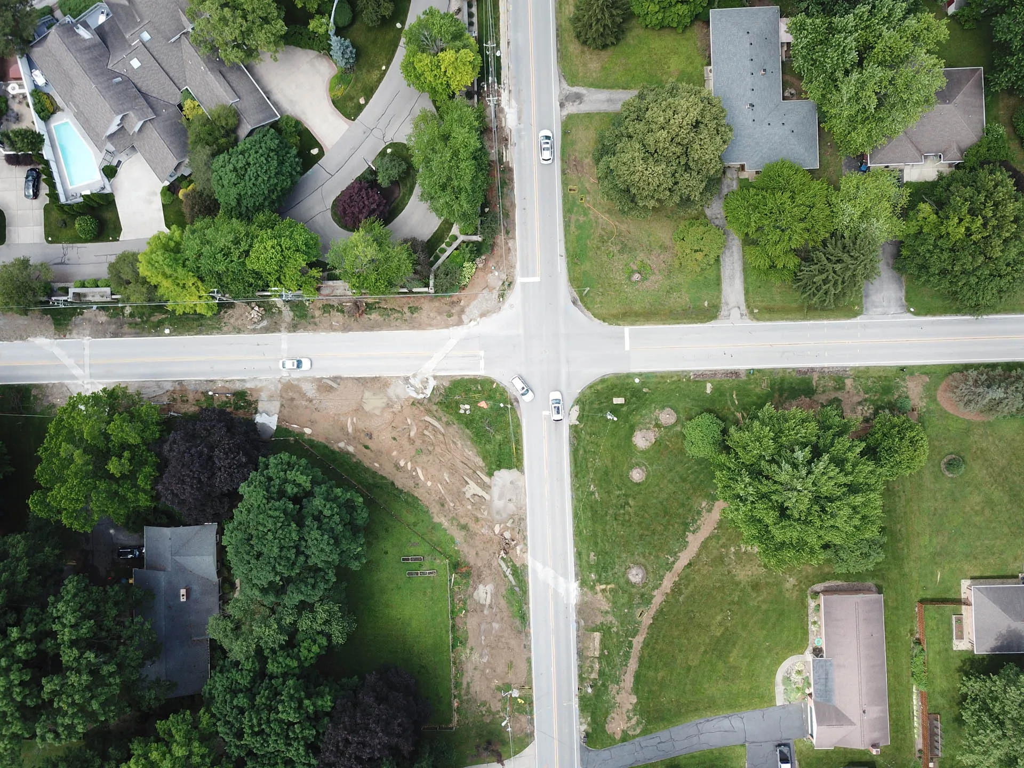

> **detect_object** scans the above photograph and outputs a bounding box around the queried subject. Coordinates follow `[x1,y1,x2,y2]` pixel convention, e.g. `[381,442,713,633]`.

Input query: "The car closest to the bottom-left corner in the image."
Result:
[116,545,144,561]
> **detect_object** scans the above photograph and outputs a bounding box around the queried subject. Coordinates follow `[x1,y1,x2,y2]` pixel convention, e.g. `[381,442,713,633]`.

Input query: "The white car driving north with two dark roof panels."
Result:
[538,130,554,164]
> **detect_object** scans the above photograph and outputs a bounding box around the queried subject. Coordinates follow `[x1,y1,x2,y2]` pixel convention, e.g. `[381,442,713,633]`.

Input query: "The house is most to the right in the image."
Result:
[965,584,1024,654]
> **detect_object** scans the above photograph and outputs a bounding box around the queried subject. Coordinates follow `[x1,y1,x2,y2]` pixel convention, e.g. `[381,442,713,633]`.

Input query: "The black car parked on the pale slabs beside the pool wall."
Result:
[22,167,43,200]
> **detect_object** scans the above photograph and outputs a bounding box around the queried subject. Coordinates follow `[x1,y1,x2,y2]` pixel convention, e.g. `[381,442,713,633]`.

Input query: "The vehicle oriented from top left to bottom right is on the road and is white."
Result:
[509,372,536,404]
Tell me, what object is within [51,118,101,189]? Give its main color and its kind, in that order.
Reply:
white swimming pool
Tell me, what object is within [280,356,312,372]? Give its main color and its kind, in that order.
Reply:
white car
